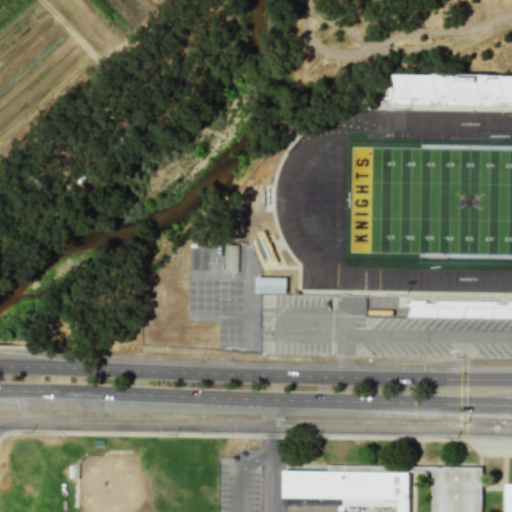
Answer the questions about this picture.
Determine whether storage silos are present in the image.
No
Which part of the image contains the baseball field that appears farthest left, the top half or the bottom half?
bottom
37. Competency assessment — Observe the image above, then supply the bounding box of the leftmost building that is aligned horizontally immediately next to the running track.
[256,278,290,293]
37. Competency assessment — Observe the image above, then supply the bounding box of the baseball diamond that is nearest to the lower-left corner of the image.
[74,450,152,512]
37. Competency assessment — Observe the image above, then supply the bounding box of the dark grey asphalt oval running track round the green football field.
[278,111,512,290]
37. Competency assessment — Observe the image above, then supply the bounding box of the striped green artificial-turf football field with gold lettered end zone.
[348,132,512,269]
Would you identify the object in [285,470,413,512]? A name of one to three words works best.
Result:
building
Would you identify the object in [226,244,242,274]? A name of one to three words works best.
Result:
building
